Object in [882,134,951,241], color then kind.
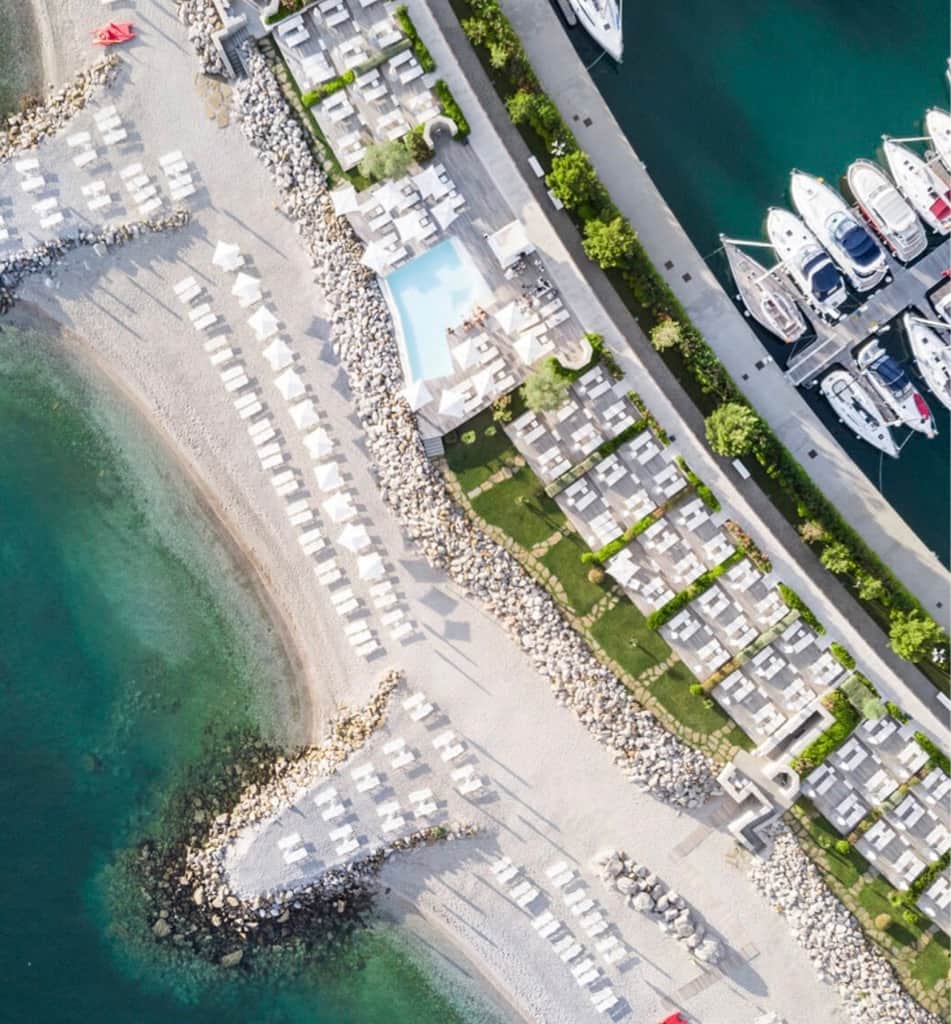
white boat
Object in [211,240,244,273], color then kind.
white umbrella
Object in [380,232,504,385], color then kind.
white swimming pool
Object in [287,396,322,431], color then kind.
white umbrella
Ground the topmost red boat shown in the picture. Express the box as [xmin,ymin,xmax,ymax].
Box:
[92,18,135,44]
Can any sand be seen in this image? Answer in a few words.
Yes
